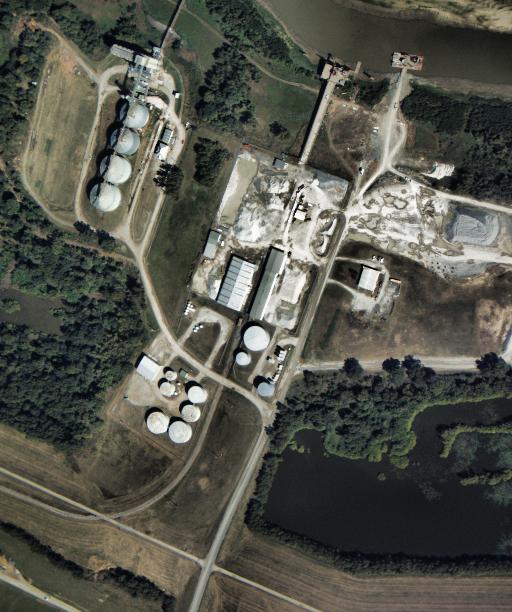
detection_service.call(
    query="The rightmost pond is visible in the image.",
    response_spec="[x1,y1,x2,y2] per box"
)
[264,394,512,558]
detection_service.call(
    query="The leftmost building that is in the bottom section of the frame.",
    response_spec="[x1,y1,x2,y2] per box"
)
[136,356,161,381]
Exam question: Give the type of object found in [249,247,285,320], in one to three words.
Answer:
shed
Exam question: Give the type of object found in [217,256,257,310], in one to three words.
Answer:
barn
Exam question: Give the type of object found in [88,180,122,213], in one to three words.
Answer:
silo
